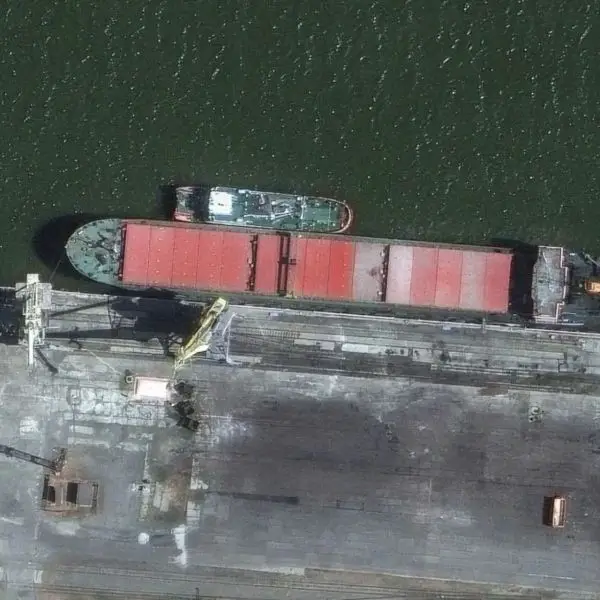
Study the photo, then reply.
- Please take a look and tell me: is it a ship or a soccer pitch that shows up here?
ship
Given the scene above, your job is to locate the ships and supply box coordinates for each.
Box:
[174,186,354,232]
[66,216,600,326]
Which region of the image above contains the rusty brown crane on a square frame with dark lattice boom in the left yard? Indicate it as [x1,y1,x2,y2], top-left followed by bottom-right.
[0,446,99,514]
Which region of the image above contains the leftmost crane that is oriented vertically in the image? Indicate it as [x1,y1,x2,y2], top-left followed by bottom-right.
[15,274,57,368]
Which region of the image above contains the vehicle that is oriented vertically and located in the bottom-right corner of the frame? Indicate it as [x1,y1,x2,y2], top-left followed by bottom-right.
[552,495,567,527]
